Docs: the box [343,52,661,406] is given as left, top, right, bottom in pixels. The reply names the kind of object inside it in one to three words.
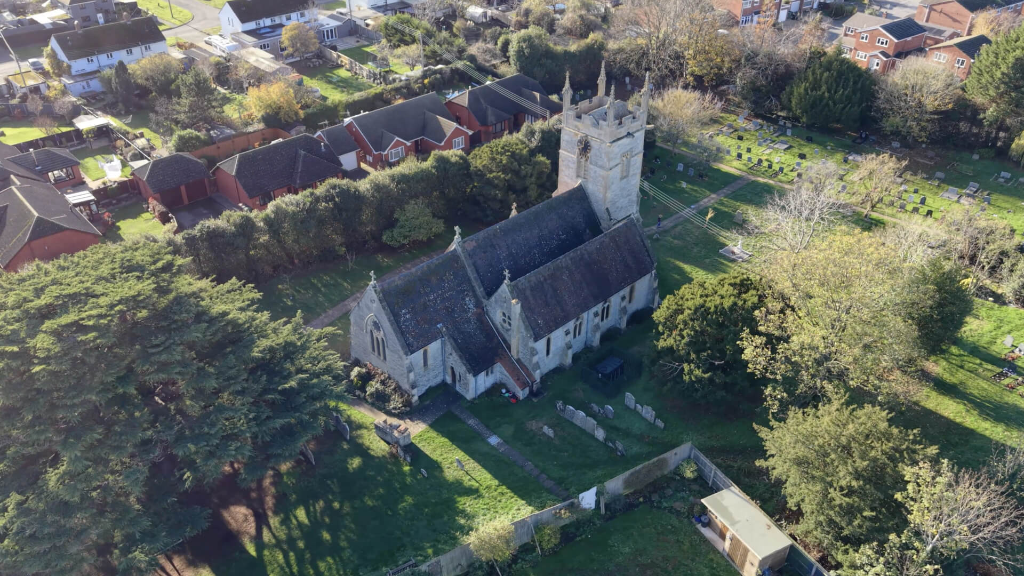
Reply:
church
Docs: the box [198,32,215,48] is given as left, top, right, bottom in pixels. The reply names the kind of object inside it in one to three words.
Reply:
car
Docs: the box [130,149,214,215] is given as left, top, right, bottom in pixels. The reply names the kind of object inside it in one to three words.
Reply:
building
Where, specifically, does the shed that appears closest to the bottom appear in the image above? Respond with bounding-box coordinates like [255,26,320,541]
[700,484,797,576]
